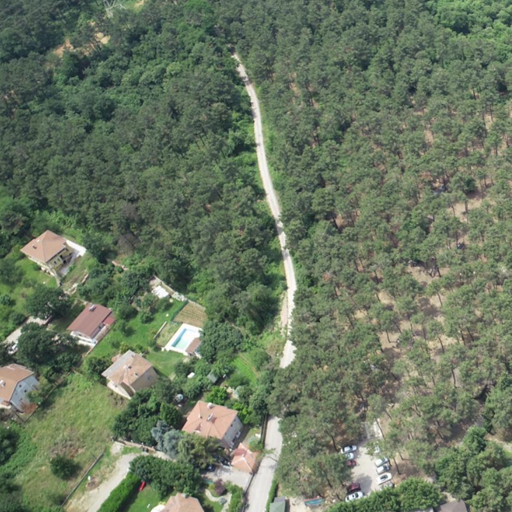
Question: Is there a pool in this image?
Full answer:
Yes, this view includes a pool.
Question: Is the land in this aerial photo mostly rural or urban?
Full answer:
From above, the setting appears rural.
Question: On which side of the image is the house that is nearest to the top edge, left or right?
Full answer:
You can find the house that is nearest to the top edge on the left side of the picture.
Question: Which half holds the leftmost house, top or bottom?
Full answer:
It is in the bottom half that the leftmost house appears.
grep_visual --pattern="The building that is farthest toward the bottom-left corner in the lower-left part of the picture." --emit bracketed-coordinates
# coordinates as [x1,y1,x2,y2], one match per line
[0,364,42,415]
